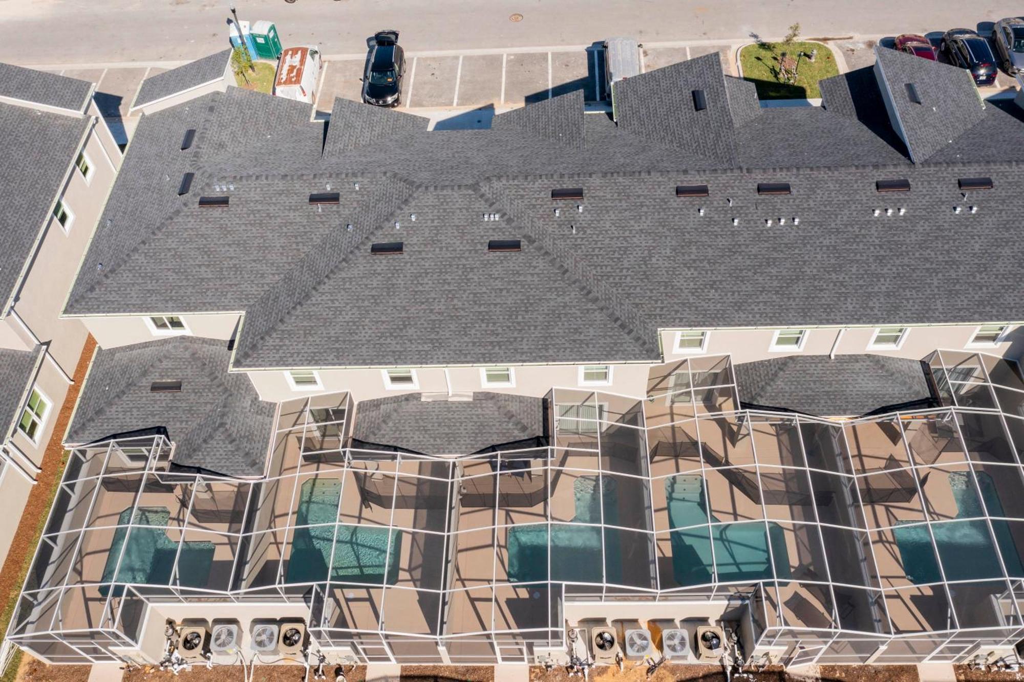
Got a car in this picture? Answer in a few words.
Yes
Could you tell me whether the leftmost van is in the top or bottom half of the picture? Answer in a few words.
top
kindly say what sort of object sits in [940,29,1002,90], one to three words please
car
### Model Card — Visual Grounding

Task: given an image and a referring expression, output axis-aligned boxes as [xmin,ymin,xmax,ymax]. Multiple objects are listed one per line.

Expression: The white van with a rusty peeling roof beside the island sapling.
[274,46,324,106]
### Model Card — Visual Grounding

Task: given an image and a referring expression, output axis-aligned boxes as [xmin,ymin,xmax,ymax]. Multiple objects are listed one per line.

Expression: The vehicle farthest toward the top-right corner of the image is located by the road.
[992,19,1024,74]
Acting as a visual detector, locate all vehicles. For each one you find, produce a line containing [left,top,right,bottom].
[992,19,1024,74]
[274,46,324,106]
[940,29,1002,90]
[361,26,406,109]
[896,37,949,66]
[602,43,644,111]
